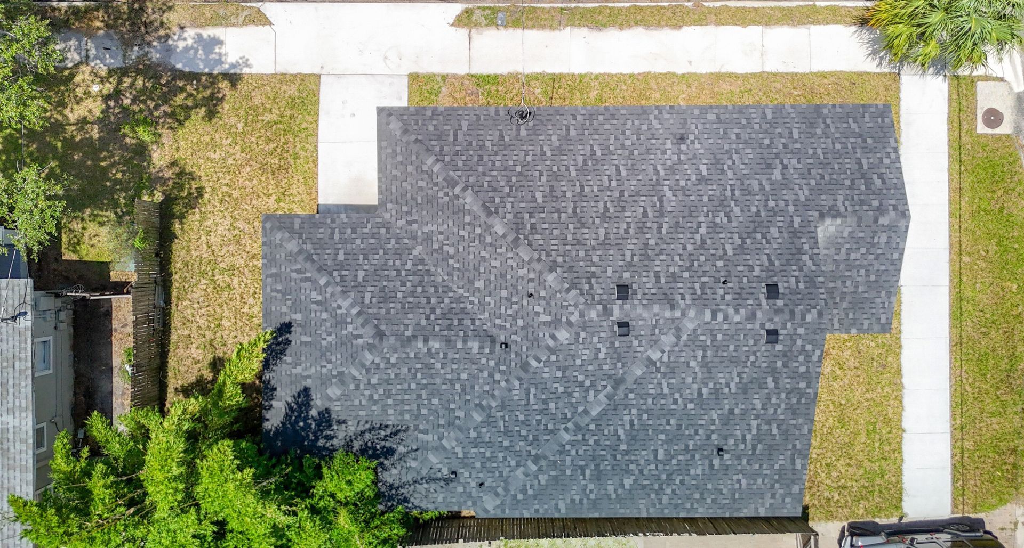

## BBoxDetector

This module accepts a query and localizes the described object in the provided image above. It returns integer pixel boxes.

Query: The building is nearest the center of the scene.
[262,106,909,518]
